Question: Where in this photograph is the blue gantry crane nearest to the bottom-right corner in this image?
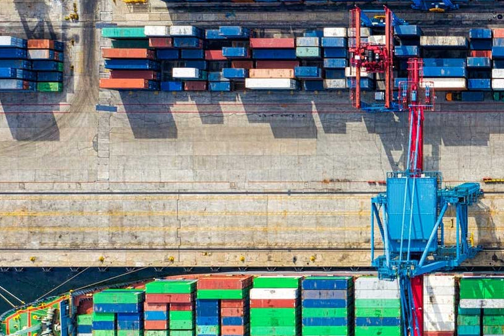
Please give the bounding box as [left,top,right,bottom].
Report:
[367,58,492,336]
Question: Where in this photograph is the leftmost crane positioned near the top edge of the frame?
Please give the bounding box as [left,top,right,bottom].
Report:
[349,6,419,113]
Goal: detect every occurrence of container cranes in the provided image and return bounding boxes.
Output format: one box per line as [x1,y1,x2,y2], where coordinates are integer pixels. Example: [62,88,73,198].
[367,58,492,336]
[349,6,419,113]
[404,0,467,13]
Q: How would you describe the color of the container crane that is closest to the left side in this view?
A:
red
